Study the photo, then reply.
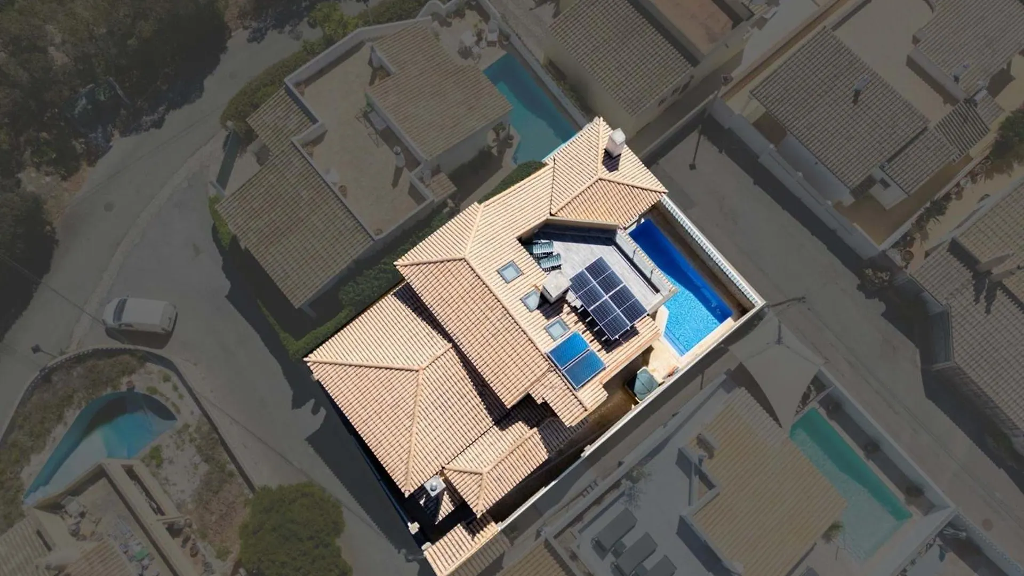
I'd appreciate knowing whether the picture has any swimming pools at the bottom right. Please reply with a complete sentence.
Yes, a swimming pool is visible at the bottom right.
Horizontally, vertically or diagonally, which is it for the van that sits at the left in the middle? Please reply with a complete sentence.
In this picture, the van that sits at the left in the middle is oriented horizontally.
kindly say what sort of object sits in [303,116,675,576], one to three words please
house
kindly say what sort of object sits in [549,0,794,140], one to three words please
house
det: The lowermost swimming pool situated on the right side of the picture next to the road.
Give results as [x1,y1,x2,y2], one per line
[783,402,919,576]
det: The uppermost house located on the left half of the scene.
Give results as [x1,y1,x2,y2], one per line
[215,19,512,310]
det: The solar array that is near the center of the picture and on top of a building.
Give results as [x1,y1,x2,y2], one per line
[569,258,647,339]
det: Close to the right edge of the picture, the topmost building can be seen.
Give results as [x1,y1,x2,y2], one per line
[747,0,1024,222]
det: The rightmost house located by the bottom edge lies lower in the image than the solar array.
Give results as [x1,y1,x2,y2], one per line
[502,367,848,576]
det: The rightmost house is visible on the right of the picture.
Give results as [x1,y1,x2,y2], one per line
[889,174,1024,442]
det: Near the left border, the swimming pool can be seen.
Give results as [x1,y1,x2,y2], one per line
[24,392,176,505]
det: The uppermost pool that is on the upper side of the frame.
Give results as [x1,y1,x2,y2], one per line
[482,52,575,164]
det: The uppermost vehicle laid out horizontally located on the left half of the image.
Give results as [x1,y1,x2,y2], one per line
[103,298,179,338]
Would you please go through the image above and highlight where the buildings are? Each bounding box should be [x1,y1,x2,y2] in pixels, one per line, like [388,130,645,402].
[747,0,1024,222]
[549,0,794,140]
[215,19,512,310]
[0,457,233,576]
[303,116,675,576]
[502,367,848,576]
[889,174,1024,442]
